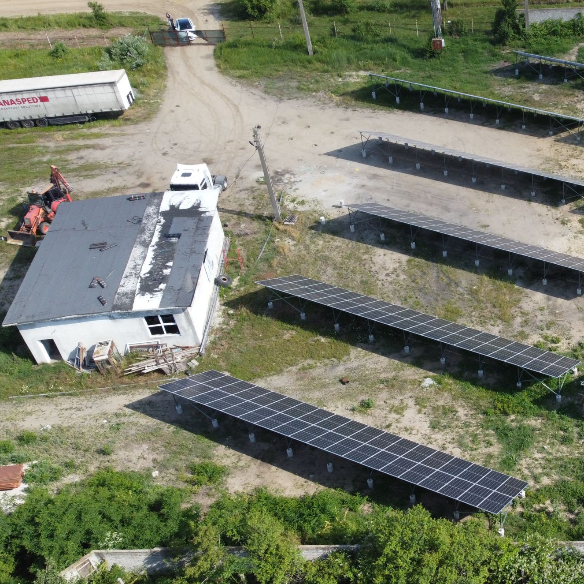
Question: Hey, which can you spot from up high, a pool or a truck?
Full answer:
Of the two, only a truck appears.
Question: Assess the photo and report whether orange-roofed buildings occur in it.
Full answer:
No, the photo shows no orange-roofed building.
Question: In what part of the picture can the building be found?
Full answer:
The building appears toward the left of the photo.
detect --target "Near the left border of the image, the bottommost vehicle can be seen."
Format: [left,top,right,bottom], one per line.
[6,161,84,247]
